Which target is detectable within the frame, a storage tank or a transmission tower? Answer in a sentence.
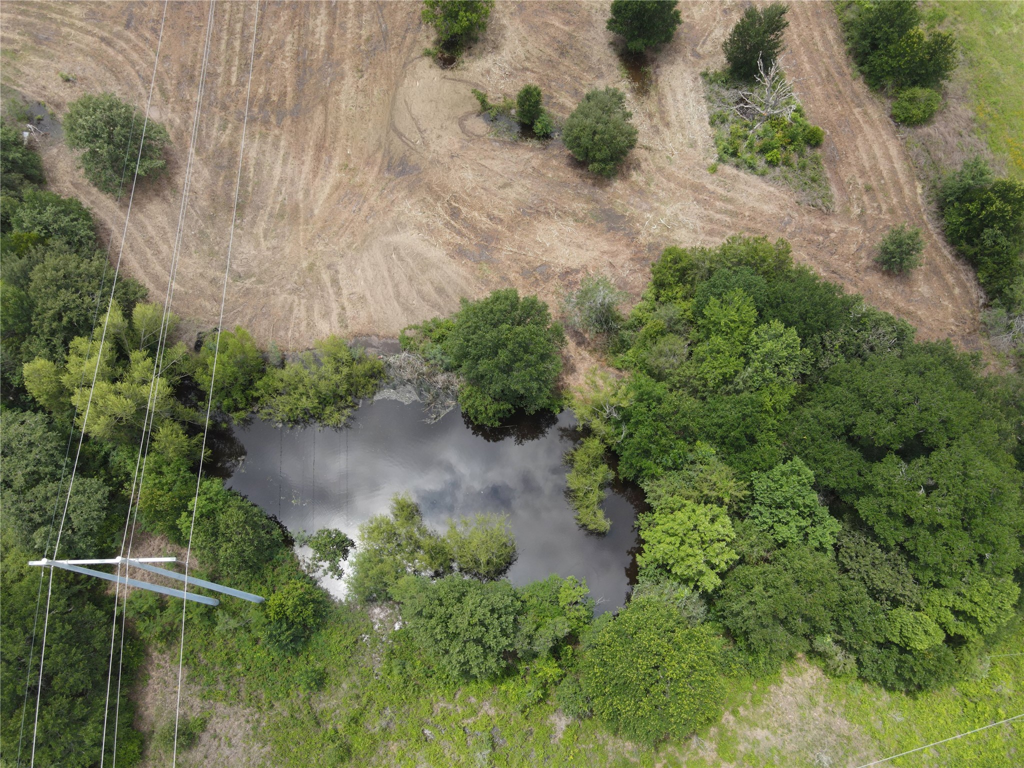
It is a transmission tower that can be seen here.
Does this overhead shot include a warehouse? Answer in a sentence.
No, the picture doesn't show any warehouse.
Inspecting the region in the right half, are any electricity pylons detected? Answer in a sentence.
No, I see no electricity pylon in the right half.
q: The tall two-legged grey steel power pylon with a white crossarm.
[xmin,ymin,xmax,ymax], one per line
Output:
[27,556,265,607]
